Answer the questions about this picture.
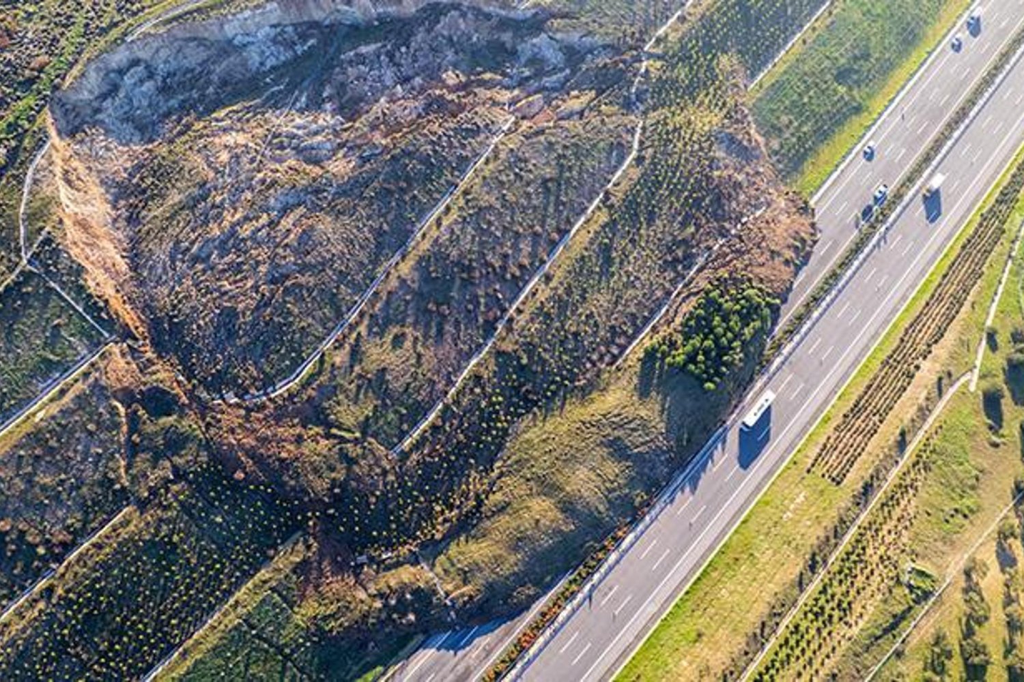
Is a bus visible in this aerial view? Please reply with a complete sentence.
Yes, looking at the shot, I can spot a bus.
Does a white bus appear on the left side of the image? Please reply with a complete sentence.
No, no white bus is visible on the left side of the image.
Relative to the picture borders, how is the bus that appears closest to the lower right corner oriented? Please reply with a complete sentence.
The bus that appears closest to the lower right corner is oriented on a diagonal.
